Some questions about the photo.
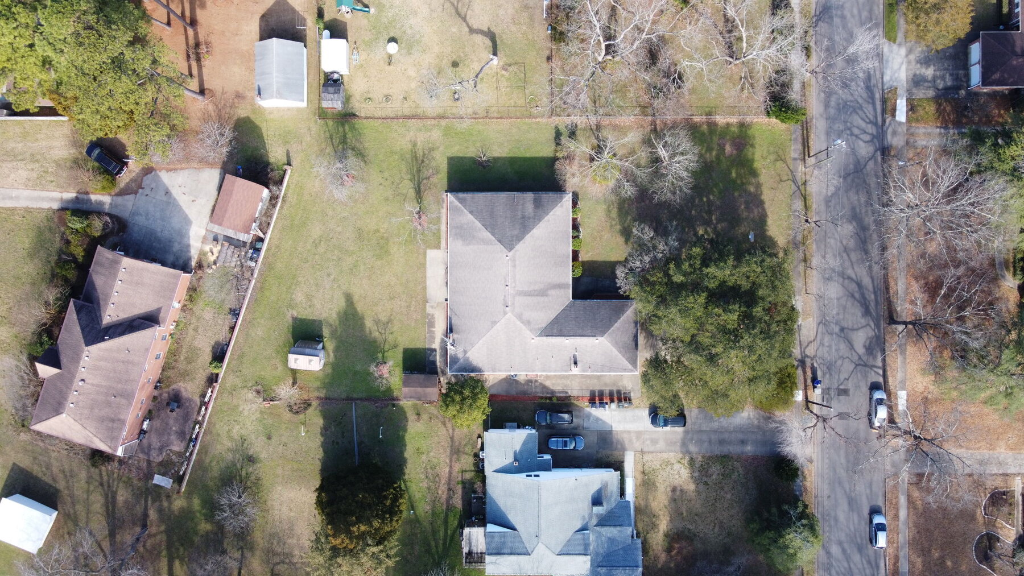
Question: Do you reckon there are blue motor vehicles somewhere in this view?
Yes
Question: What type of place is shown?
residential area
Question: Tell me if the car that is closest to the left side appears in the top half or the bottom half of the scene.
top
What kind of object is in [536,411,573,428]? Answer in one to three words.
car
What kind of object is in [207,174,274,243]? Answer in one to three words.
shed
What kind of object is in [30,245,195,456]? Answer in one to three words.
house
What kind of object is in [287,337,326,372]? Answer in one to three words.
shed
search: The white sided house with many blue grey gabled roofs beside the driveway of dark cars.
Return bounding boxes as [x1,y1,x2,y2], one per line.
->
[464,422,643,576]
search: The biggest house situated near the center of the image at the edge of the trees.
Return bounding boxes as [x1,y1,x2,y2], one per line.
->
[437,191,639,379]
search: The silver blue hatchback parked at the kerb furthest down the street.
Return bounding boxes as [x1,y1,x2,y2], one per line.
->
[871,514,890,550]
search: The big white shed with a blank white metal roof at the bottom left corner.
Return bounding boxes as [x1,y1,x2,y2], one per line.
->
[0,491,65,554]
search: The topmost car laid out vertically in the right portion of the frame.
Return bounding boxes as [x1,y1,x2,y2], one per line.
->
[872,390,890,427]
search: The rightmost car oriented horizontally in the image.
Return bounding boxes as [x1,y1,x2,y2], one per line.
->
[651,413,688,430]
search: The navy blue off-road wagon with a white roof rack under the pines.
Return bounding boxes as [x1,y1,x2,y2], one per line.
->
[81,143,127,179]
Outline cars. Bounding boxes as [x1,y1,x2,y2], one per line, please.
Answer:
[651,413,688,430]
[81,143,127,179]
[548,436,584,453]
[871,514,890,550]
[536,411,573,428]
[872,390,890,427]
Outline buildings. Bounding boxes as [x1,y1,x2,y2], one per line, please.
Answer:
[254,38,309,107]
[464,422,643,576]
[30,245,195,456]
[322,83,345,110]
[321,38,350,75]
[207,174,274,243]
[287,337,326,372]
[0,491,65,554]
[437,191,639,379]
[969,0,1024,90]
[403,374,442,401]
